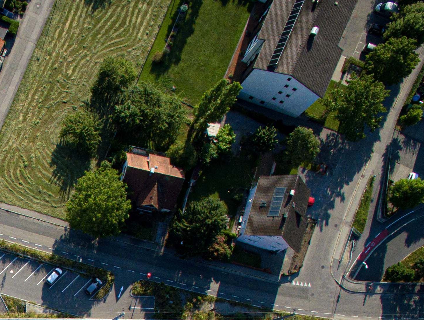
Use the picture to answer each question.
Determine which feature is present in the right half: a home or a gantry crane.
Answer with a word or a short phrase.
home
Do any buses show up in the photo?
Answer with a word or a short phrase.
No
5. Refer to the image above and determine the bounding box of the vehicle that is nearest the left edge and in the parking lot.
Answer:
[46,267,63,286]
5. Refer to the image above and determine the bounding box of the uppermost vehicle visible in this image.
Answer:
[374,2,398,15]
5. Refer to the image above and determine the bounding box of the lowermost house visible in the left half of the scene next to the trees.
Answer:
[117,146,185,215]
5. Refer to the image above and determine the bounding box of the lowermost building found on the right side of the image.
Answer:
[239,178,315,253]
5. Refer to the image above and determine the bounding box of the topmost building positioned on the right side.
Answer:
[238,0,359,113]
